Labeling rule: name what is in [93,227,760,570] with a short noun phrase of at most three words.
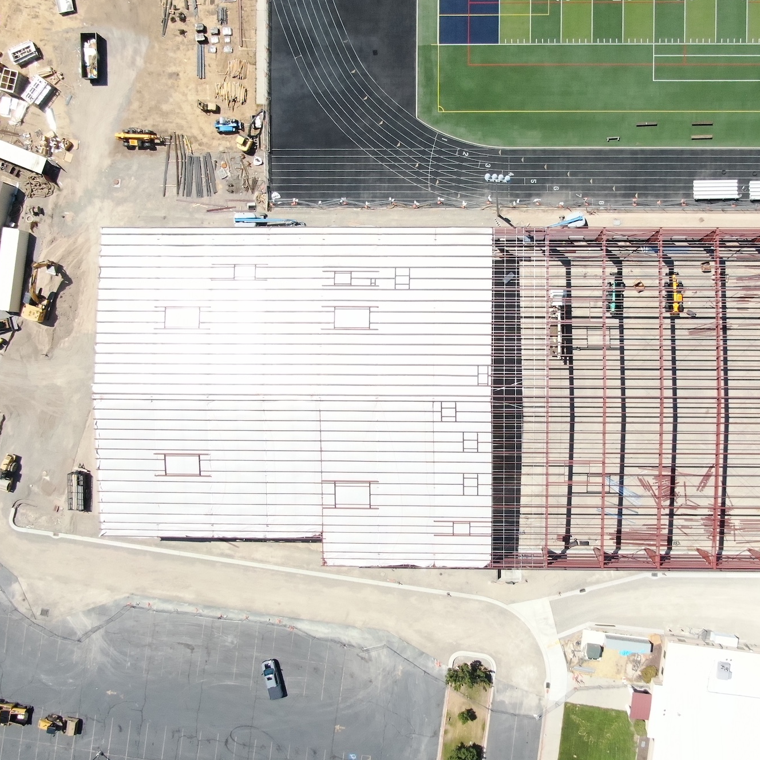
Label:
building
